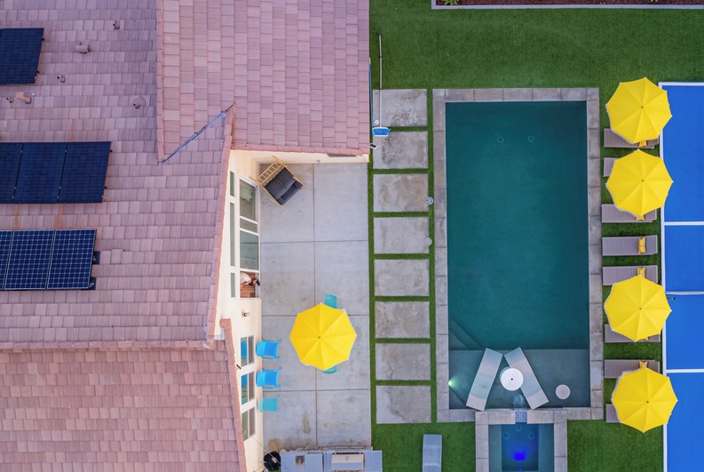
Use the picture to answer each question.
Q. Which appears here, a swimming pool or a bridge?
swimming pool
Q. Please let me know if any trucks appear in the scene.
No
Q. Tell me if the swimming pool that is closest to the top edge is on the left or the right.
right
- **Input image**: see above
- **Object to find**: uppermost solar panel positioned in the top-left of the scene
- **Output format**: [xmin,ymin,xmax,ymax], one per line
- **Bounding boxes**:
[0,28,43,83]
